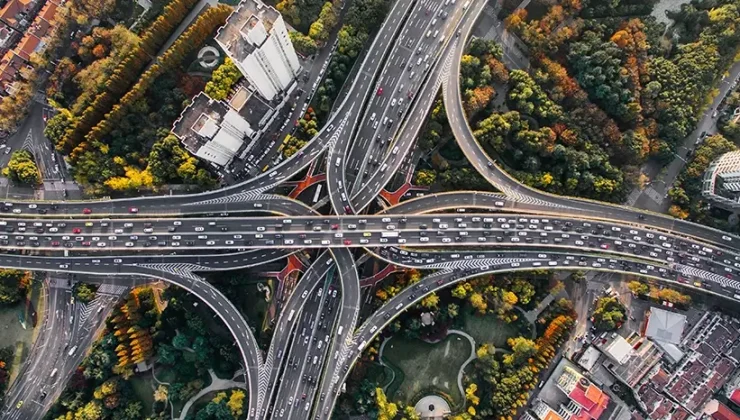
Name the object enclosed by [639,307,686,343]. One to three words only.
building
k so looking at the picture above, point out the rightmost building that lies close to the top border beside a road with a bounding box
[218,0,304,103]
